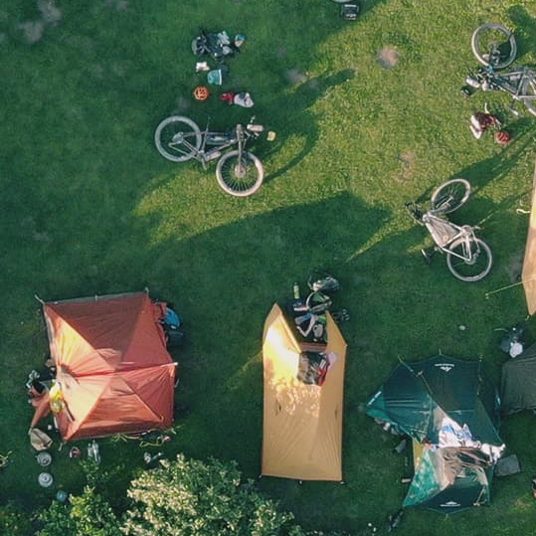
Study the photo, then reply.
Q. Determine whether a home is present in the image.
No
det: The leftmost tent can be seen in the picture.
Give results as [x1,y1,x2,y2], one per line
[29,291,179,450]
